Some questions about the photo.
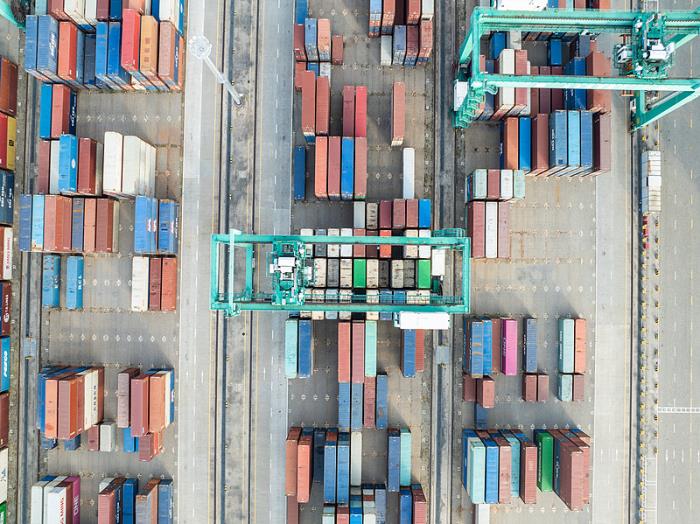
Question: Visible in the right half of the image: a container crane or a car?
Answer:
container crane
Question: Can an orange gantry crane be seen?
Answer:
No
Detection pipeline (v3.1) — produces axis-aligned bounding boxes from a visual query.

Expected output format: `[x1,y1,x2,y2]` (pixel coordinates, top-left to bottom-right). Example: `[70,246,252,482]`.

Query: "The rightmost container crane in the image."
[447,0,700,125]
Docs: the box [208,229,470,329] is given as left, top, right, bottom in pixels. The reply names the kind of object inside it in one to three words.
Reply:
container crane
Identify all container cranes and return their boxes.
[208,229,470,329]
[0,0,27,34]
[447,0,700,125]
